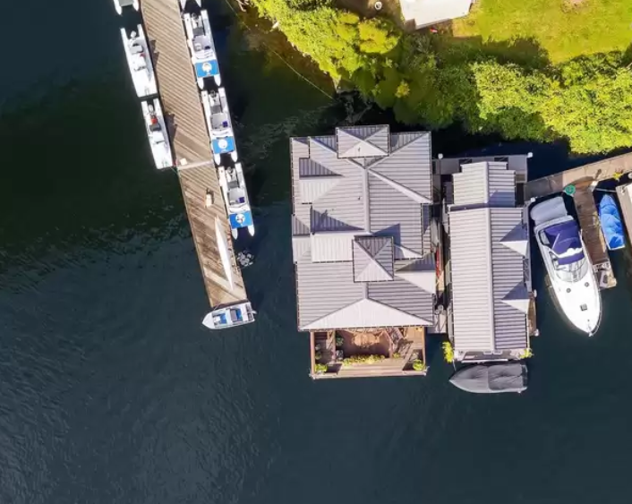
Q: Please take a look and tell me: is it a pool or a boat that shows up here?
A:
boat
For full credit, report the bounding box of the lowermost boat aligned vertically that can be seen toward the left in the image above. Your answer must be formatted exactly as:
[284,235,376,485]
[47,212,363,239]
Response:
[217,160,253,237]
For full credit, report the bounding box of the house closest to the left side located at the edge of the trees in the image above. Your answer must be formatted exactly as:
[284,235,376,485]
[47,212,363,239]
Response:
[291,124,437,380]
